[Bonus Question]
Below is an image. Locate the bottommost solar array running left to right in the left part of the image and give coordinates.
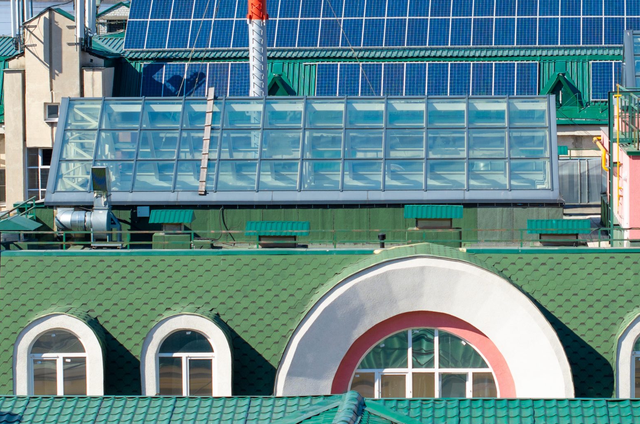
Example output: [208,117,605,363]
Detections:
[139,64,248,98]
